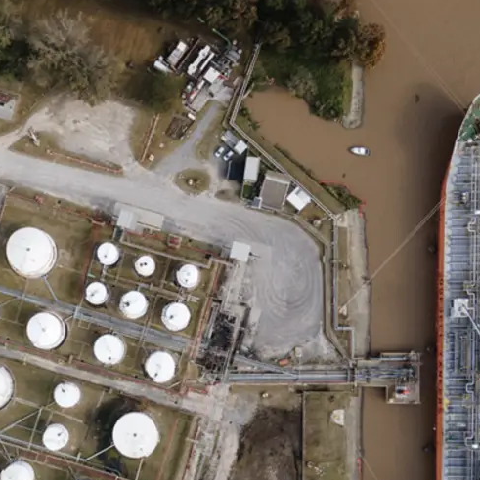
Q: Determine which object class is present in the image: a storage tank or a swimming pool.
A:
storage tank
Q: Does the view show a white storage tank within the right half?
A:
No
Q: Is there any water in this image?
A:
Yes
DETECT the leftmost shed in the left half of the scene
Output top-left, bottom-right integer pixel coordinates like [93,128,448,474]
[114,202,165,234]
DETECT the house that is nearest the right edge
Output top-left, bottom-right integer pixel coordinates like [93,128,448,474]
[287,187,311,213]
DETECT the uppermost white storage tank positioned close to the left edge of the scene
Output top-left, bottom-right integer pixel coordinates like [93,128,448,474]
[7,229,59,284]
